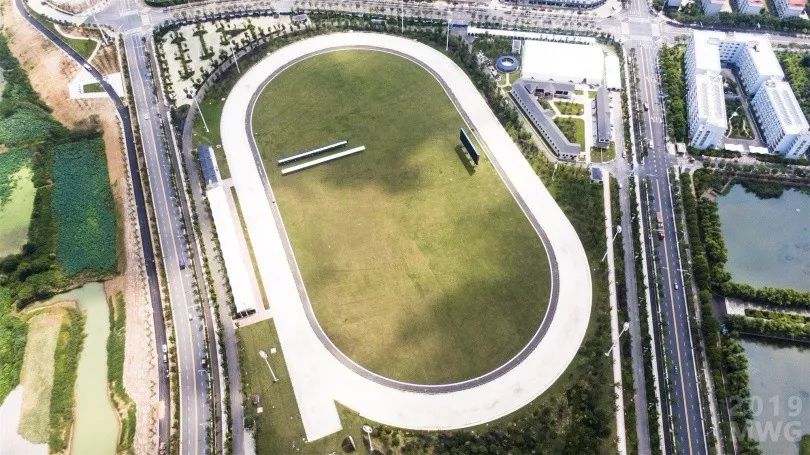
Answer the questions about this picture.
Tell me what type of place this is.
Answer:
sports ground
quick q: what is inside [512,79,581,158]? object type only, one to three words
building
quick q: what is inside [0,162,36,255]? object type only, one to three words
pond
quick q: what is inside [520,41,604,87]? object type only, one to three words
building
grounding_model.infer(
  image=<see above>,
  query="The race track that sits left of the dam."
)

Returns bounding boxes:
[211,28,603,442]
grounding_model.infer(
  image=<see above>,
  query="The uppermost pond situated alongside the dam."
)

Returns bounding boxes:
[717,184,810,293]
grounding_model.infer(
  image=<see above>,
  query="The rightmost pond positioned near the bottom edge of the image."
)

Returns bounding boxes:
[731,328,810,455]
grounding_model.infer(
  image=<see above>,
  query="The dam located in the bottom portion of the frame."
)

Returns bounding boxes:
[713,295,810,333]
